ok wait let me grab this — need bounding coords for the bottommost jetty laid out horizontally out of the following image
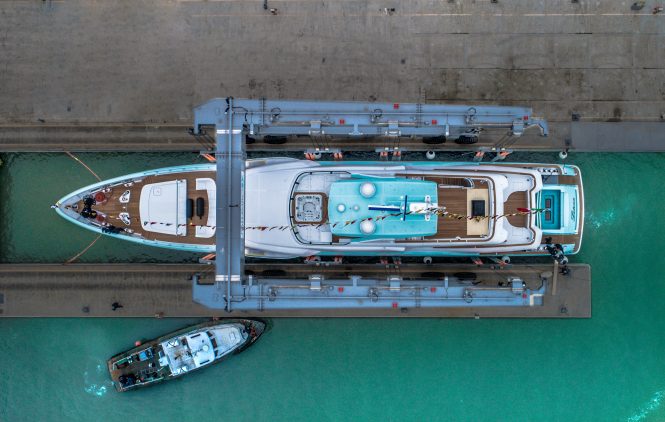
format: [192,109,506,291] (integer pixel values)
[0,263,590,317]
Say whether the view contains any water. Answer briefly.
Yes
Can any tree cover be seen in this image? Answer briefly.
No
